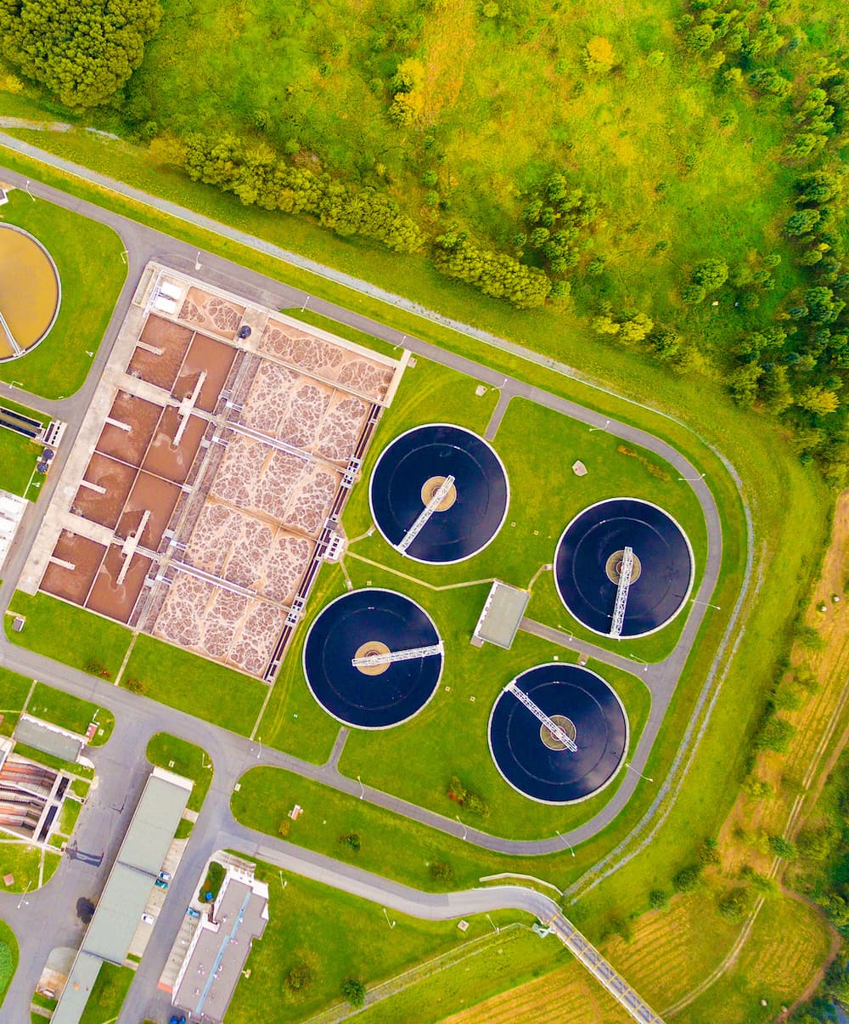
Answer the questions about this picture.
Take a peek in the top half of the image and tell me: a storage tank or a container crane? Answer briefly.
storage tank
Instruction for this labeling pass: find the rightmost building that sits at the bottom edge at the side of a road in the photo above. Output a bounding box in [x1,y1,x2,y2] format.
[173,860,269,1024]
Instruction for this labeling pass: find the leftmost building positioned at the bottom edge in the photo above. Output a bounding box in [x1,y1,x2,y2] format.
[49,766,191,1024]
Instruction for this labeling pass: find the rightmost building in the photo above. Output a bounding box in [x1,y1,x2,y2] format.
[471,581,531,650]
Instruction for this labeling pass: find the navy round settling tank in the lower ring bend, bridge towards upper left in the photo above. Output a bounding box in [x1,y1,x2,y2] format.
[487,662,630,805]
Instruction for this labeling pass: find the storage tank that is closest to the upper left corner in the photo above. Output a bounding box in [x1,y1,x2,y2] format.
[0,221,62,362]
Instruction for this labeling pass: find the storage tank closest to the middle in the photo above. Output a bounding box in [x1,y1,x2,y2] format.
[368,423,511,565]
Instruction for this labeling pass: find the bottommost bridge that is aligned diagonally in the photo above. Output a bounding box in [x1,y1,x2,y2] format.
[540,913,668,1024]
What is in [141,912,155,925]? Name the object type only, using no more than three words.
vehicle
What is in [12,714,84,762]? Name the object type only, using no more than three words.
building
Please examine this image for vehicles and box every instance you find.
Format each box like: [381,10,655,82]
[156,878,168,888]
[141,912,155,925]
[170,1013,179,1024]
[177,1013,187,1024]
[159,869,171,879]
[186,906,200,917]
